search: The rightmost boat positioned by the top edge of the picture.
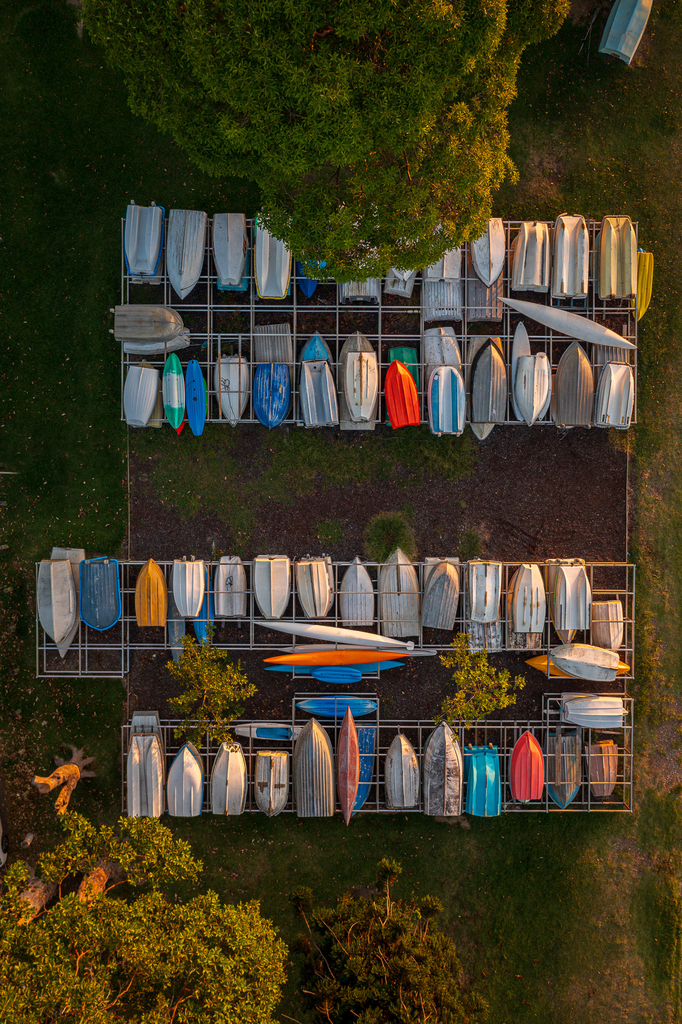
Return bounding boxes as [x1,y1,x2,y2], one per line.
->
[599,0,650,63]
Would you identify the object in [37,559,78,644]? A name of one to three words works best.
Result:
boat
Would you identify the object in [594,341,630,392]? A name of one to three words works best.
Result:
boat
